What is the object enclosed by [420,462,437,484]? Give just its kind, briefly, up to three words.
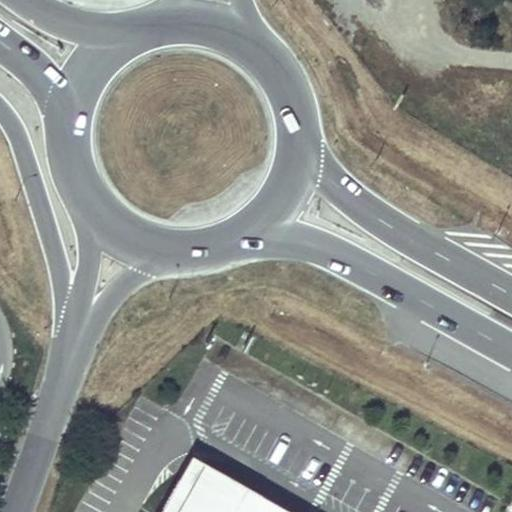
car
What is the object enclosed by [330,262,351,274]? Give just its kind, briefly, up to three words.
vehicle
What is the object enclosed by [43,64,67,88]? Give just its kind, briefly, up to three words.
vehicle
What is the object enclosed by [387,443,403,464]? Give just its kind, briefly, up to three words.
car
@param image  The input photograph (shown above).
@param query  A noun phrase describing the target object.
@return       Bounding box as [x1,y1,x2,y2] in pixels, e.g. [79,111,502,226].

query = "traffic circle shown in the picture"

[47,0,321,274]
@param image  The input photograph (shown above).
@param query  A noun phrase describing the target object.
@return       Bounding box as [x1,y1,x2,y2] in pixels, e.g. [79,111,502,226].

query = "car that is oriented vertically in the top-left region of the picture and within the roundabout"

[74,113,86,134]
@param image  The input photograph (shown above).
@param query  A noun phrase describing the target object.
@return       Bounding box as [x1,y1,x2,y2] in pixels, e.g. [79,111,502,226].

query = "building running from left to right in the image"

[160,456,291,512]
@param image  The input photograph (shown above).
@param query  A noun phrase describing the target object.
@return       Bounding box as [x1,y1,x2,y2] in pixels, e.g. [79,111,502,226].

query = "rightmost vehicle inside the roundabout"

[280,106,300,132]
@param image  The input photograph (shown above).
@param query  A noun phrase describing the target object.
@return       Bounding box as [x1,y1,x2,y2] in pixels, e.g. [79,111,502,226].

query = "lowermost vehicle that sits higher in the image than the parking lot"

[436,316,457,331]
